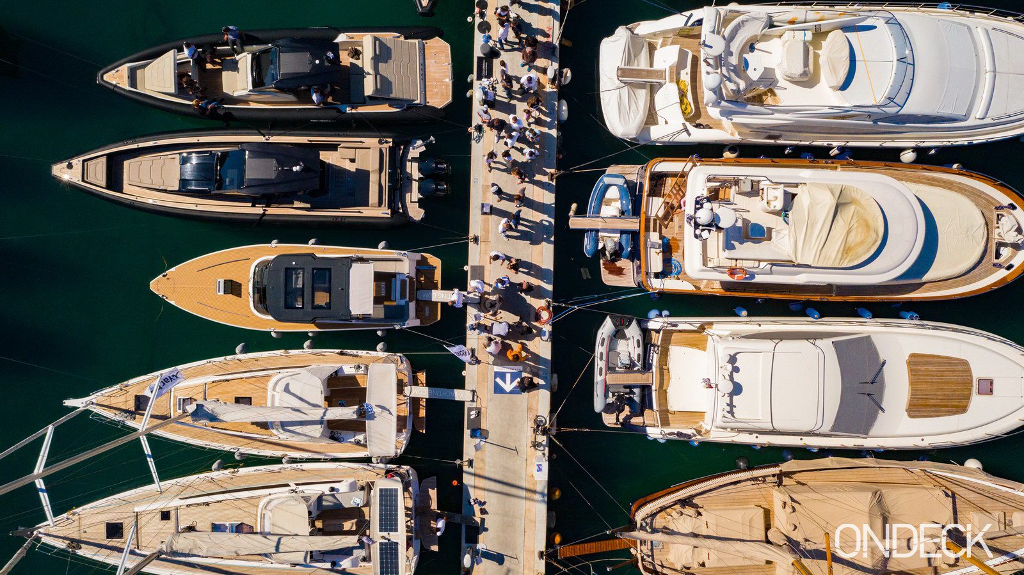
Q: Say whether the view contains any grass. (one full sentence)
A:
No, grass can't be seen anywhere here.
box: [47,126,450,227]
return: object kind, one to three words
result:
boat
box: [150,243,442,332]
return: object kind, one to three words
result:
boat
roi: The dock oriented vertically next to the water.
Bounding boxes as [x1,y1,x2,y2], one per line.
[461,0,560,575]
